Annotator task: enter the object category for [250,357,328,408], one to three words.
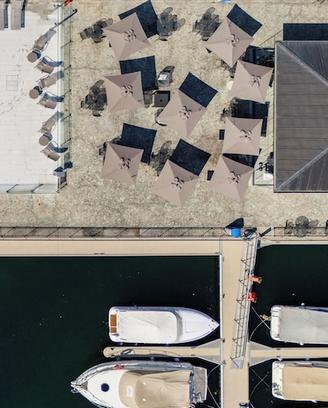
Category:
boat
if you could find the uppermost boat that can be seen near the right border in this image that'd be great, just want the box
[248,299,328,345]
